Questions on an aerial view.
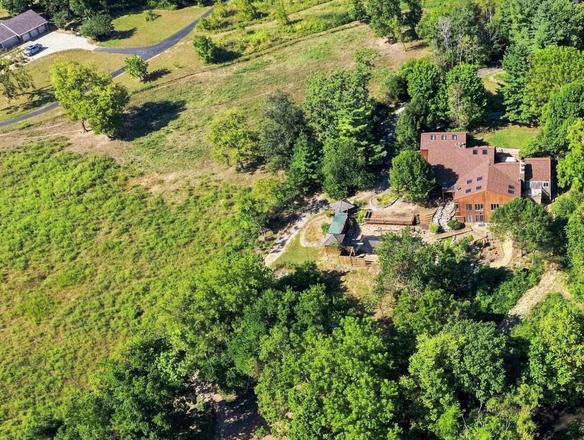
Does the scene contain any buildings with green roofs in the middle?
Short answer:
No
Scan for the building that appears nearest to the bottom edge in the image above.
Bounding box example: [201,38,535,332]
[318,236,345,261]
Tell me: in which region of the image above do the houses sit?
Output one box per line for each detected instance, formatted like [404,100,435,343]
[0,11,53,53]
[419,132,552,225]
